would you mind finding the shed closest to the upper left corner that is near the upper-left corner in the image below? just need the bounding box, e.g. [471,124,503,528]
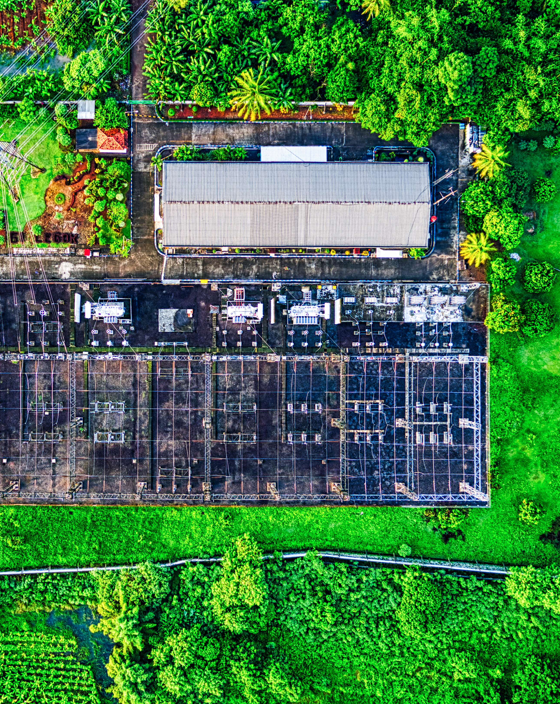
[77,100,95,121]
